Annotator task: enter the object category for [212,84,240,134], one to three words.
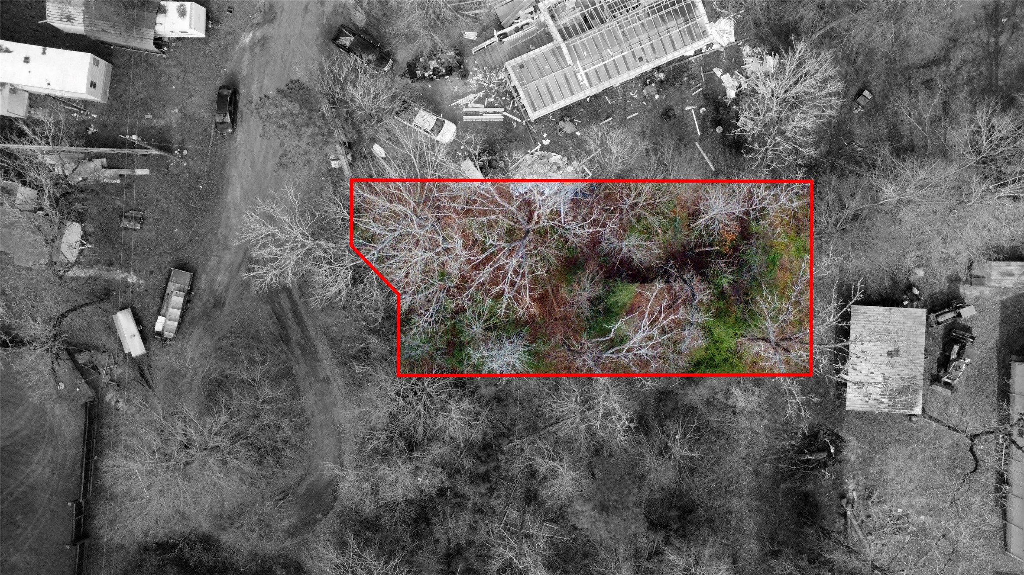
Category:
car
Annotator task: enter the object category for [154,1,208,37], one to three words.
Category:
camper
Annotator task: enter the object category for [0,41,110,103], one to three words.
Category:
house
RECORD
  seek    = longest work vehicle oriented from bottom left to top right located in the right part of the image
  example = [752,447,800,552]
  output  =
[923,331,989,402]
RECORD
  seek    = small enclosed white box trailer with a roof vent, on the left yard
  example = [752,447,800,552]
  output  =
[118,303,152,356]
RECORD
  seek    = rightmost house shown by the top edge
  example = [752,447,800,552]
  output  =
[500,0,716,126]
